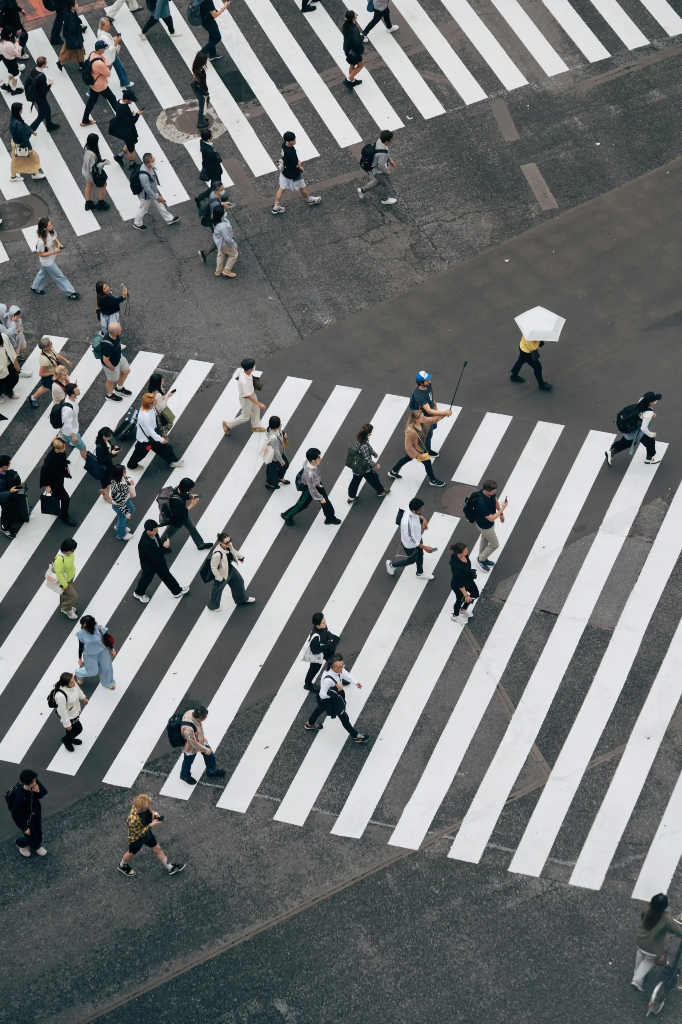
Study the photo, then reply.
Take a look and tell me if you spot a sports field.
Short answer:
No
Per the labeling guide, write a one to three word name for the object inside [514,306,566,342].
umbrella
